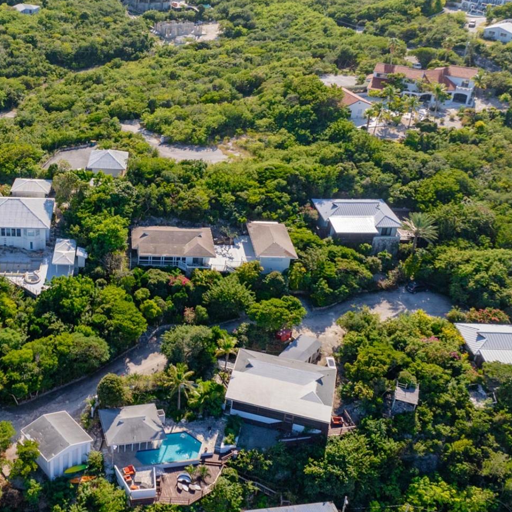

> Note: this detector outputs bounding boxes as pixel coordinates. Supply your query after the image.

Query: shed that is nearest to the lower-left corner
[25,409,93,478]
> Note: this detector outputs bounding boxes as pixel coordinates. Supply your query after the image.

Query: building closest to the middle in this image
[248,221,298,271]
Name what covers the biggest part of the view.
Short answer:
trees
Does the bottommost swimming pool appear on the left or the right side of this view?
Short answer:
left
